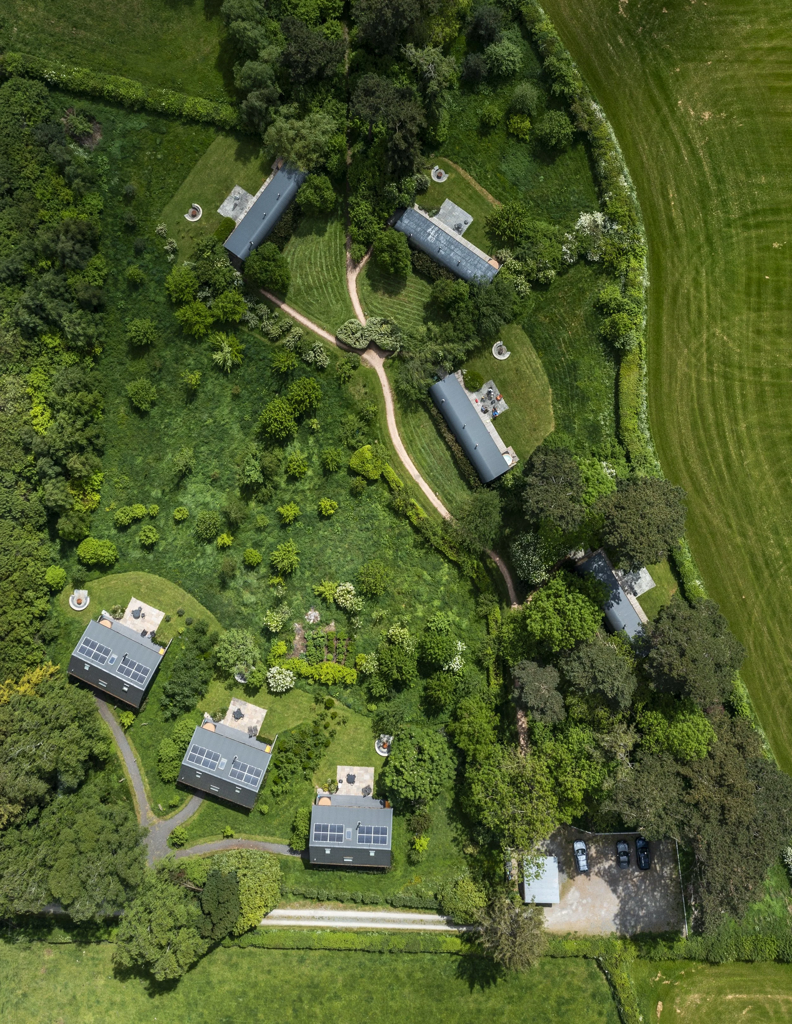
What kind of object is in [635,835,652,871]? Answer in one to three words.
car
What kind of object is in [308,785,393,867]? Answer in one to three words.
house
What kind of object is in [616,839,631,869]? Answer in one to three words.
car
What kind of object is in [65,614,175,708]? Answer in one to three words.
house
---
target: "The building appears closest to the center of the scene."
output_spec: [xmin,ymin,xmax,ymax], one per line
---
[429,369,521,484]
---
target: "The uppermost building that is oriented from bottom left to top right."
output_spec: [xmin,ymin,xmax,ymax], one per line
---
[217,154,309,269]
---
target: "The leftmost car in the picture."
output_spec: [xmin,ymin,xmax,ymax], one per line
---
[573,838,589,874]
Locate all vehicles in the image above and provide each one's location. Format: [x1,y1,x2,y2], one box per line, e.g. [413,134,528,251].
[616,839,631,869]
[635,835,652,871]
[573,838,589,874]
